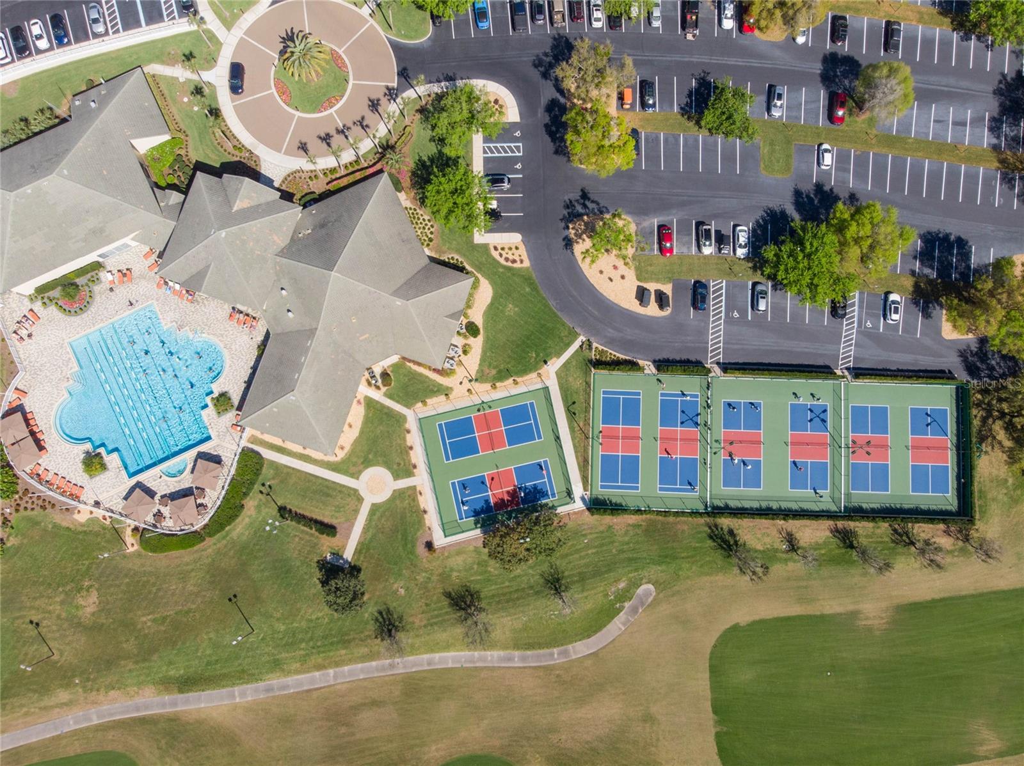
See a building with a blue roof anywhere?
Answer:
No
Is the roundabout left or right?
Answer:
left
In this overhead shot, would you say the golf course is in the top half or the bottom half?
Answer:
bottom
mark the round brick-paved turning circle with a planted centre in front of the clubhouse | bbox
[215,0,400,169]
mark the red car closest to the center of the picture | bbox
[659,226,674,256]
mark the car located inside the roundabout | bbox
[228,62,245,94]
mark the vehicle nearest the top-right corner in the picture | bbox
[884,22,901,55]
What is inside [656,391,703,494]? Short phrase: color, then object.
blue sports court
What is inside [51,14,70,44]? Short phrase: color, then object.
blue car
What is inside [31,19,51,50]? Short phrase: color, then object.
white car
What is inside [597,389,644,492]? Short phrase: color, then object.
blue sports court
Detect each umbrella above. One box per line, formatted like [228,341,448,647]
[0,412,31,446]
[191,459,222,490]
[7,436,43,471]
[169,496,200,527]
[121,488,158,524]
